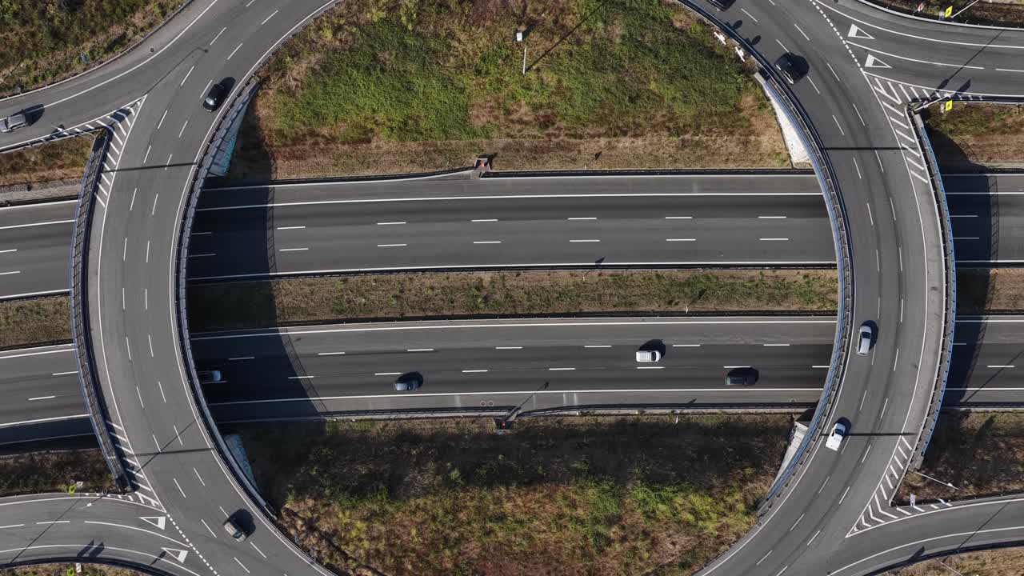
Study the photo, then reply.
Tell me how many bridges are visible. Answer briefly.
two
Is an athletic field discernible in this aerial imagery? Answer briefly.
No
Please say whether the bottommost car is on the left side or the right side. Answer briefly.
left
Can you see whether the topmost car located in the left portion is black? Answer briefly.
Yes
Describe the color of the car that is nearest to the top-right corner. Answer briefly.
black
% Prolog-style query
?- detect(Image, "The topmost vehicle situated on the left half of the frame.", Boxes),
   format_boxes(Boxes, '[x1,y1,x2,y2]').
[204,83,226,110]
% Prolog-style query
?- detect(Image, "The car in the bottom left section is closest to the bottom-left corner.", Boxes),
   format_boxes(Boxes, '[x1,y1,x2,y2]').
[223,519,247,543]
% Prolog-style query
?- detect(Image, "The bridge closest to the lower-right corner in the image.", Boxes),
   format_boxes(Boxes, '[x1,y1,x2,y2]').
[756,74,951,510]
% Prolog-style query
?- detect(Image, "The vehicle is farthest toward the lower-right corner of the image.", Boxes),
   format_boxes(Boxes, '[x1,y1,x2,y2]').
[825,422,845,452]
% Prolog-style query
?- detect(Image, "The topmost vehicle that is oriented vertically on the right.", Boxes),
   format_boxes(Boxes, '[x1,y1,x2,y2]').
[855,325,870,356]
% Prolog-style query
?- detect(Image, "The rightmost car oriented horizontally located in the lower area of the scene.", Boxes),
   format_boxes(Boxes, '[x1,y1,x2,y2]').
[724,374,755,387]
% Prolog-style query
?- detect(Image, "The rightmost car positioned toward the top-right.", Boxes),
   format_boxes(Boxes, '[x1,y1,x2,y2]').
[774,58,799,85]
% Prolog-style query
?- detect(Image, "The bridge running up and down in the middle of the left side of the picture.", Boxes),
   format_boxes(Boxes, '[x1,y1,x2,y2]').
[73,79,268,510]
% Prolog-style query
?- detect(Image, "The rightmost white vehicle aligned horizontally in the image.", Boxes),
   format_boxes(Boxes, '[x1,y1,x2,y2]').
[634,350,662,362]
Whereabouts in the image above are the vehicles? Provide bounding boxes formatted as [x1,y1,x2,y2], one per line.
[0,114,29,132]
[204,83,226,110]
[774,58,799,85]
[200,370,223,382]
[825,422,845,452]
[223,519,247,543]
[724,374,755,387]
[394,380,421,392]
[634,350,662,362]
[711,0,733,10]
[855,325,870,356]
